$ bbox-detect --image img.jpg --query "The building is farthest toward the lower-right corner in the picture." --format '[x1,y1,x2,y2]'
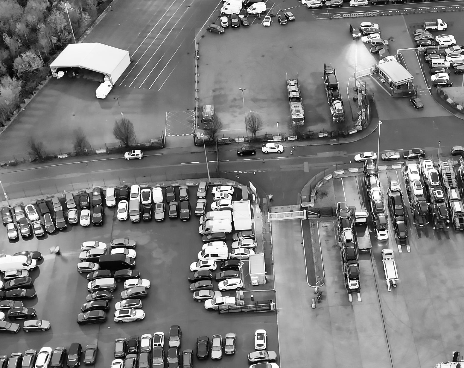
[248,248,266,283]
